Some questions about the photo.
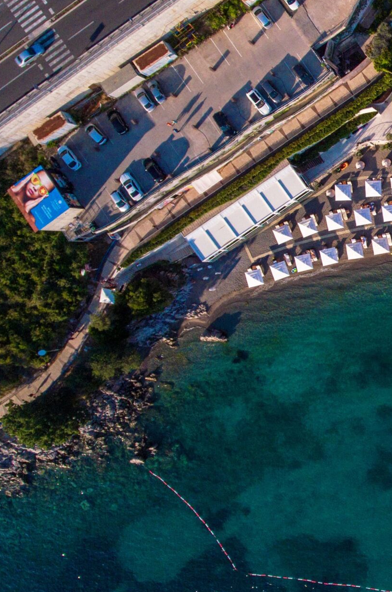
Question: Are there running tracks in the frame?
No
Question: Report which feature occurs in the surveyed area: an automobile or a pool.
automobile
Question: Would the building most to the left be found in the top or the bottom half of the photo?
top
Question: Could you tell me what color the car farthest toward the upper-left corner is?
blue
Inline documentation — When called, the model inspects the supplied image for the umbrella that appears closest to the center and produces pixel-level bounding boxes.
[245,267,265,288]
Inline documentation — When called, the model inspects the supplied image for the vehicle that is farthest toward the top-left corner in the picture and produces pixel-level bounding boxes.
[14,42,43,66]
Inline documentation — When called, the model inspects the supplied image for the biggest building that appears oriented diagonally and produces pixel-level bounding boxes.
[183,165,318,269]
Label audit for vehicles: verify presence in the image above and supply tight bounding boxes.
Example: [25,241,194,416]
[131,86,154,113]
[14,42,43,66]
[143,78,166,105]
[245,86,269,116]
[104,107,128,136]
[141,155,165,184]
[289,58,313,88]
[56,143,80,172]
[210,107,234,136]
[118,172,142,201]
[250,4,272,31]
[258,76,282,105]
[81,121,105,147]
[283,0,300,12]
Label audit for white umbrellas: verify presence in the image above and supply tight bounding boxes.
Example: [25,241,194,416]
[294,251,316,273]
[354,206,373,224]
[363,177,384,197]
[245,267,265,288]
[299,217,319,236]
[325,211,347,232]
[319,245,341,266]
[335,181,355,202]
[271,222,294,245]
[370,235,391,255]
[381,204,392,223]
[269,259,292,282]
[345,240,366,260]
